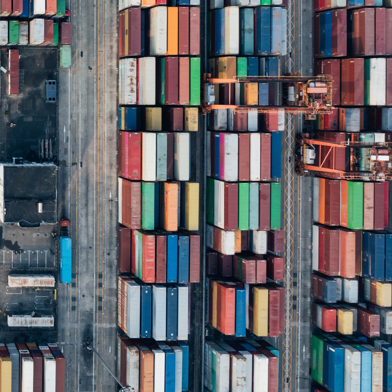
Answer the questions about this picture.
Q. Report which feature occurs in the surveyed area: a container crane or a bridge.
container crane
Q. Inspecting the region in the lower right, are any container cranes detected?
No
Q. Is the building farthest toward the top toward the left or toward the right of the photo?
left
